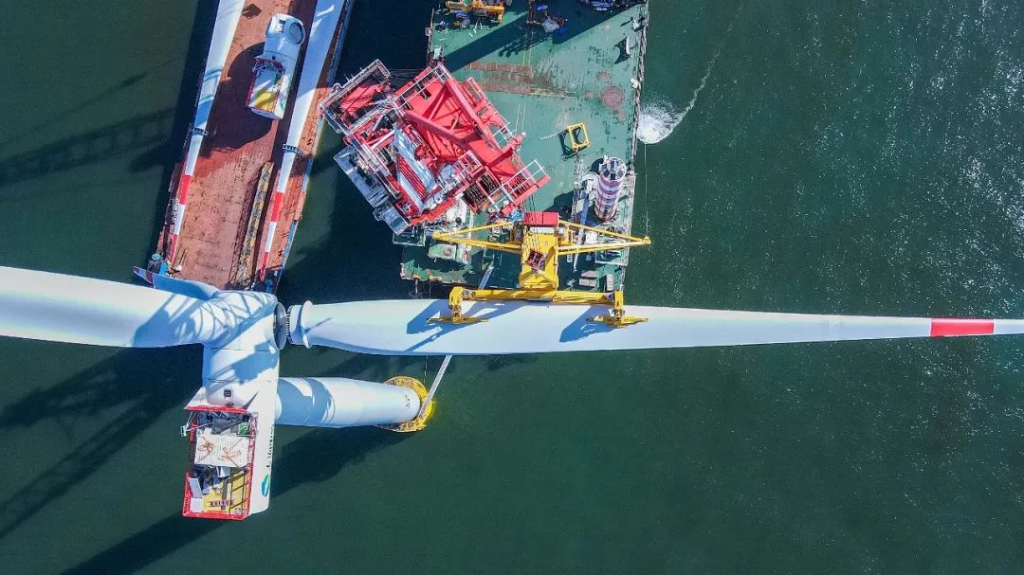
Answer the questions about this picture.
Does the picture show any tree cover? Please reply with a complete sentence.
No, no tree cover is visible.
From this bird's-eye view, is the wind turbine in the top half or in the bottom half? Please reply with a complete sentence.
Seen from above, the wind turbine lies in the bottom half of the view.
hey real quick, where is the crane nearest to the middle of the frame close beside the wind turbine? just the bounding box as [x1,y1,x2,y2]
[323,59,552,277]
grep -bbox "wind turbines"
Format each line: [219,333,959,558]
[0,264,440,526]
